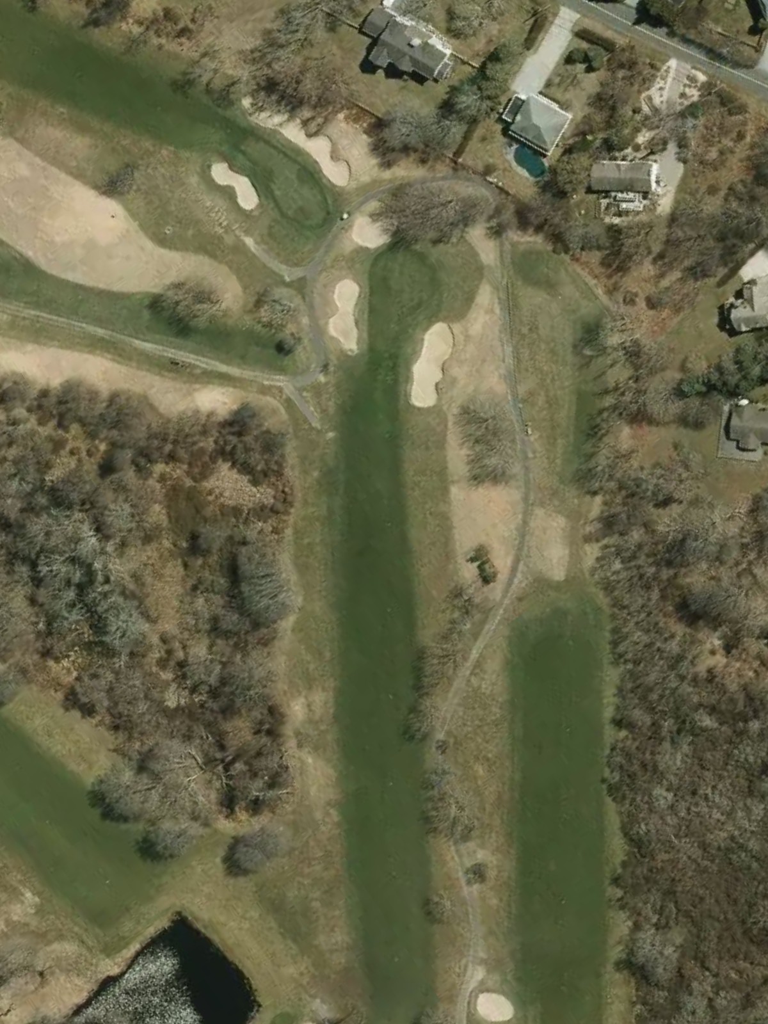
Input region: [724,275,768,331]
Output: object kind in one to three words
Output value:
house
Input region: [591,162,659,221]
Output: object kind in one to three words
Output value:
house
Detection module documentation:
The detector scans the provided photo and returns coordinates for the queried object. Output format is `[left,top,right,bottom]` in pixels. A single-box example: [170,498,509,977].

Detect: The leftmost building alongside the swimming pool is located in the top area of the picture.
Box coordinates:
[502,93,571,155]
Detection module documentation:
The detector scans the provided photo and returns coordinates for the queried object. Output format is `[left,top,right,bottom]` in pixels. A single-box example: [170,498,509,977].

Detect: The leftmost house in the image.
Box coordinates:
[363,7,452,79]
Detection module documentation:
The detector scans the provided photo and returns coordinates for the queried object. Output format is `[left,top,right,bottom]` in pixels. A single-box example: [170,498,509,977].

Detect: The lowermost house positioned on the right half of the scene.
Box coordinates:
[717,404,768,462]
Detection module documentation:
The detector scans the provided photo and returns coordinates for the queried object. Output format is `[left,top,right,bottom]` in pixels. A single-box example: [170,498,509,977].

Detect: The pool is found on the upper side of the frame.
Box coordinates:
[509,142,548,182]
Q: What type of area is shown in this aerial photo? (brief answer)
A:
golf course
